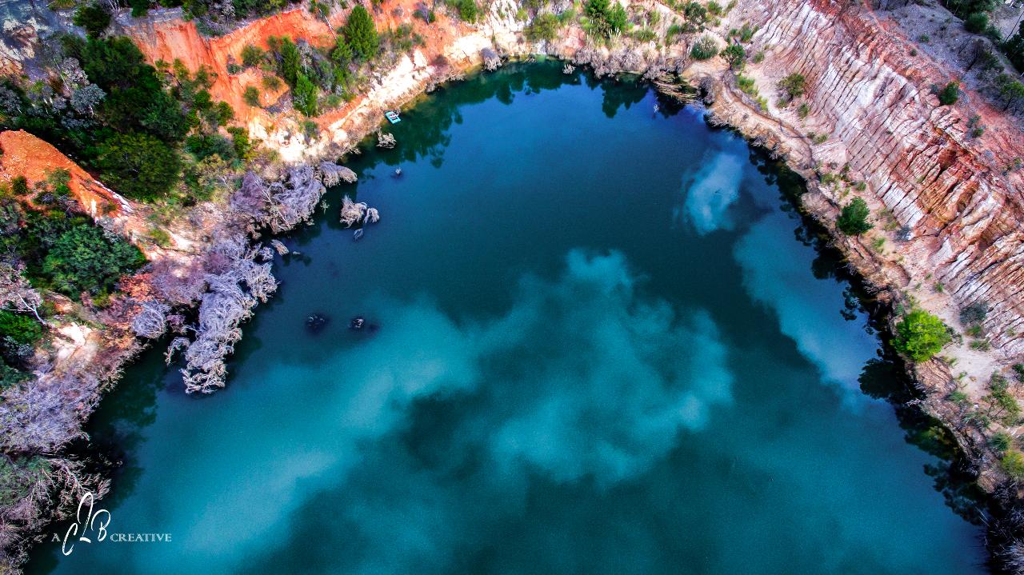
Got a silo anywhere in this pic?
No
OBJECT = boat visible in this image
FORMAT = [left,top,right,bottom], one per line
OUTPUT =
[388,112,403,127]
